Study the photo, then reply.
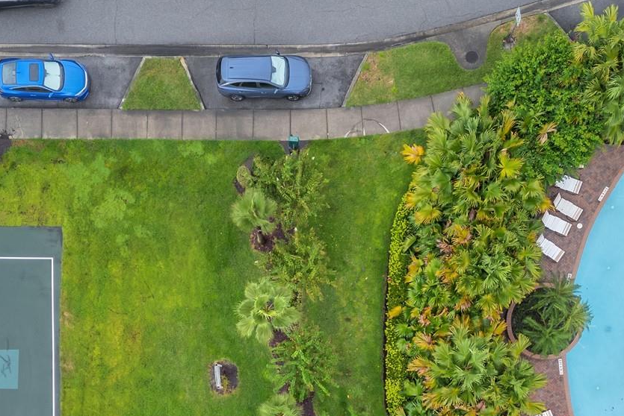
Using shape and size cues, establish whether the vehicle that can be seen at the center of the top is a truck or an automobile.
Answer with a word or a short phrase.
automobile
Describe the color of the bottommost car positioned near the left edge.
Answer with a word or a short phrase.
blue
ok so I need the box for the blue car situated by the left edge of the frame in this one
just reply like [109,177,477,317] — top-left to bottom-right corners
[0,55,87,105]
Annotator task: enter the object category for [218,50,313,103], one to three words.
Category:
car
